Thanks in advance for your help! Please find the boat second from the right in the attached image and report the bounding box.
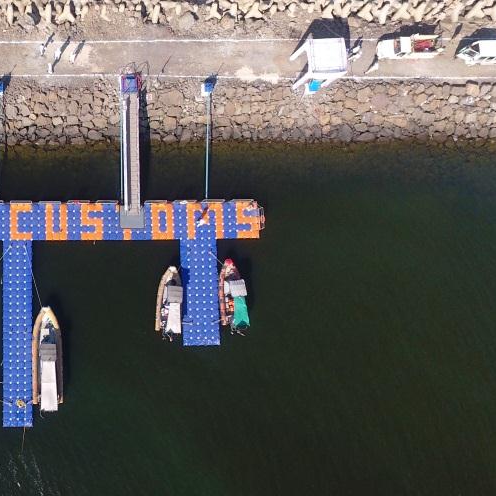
[153,266,186,337]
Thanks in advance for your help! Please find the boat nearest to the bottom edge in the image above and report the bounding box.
[31,308,63,412]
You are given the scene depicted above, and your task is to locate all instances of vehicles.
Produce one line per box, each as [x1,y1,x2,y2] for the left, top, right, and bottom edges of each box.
[373,32,446,62]
[452,39,496,68]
